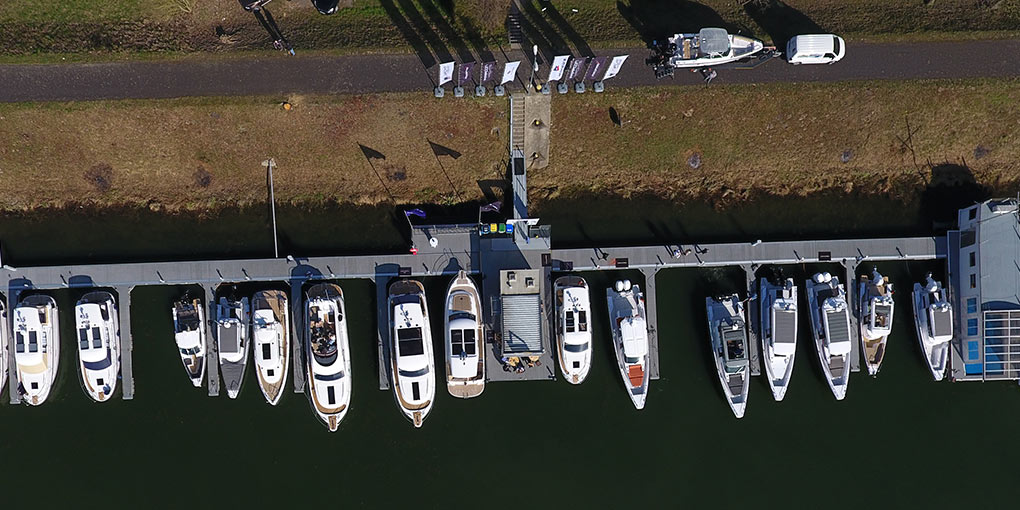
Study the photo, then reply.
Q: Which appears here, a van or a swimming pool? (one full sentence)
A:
The one in the frame is a van.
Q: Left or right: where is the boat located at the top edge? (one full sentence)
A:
The boat located at the top edge is on the right side of the image.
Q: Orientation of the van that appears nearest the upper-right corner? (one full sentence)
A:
The van that appears nearest the upper-right corner has been laid out from side to side relative to the frame.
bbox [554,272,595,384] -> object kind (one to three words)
boat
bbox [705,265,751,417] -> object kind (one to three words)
boat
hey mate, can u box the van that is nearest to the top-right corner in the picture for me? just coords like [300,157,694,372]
[783,33,845,66]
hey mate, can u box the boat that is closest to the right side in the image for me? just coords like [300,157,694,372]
[944,194,1020,383]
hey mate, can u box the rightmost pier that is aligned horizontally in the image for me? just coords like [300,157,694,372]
[552,236,945,381]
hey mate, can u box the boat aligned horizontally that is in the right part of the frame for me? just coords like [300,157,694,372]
[655,24,764,64]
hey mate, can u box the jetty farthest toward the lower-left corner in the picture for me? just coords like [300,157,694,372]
[0,251,481,405]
